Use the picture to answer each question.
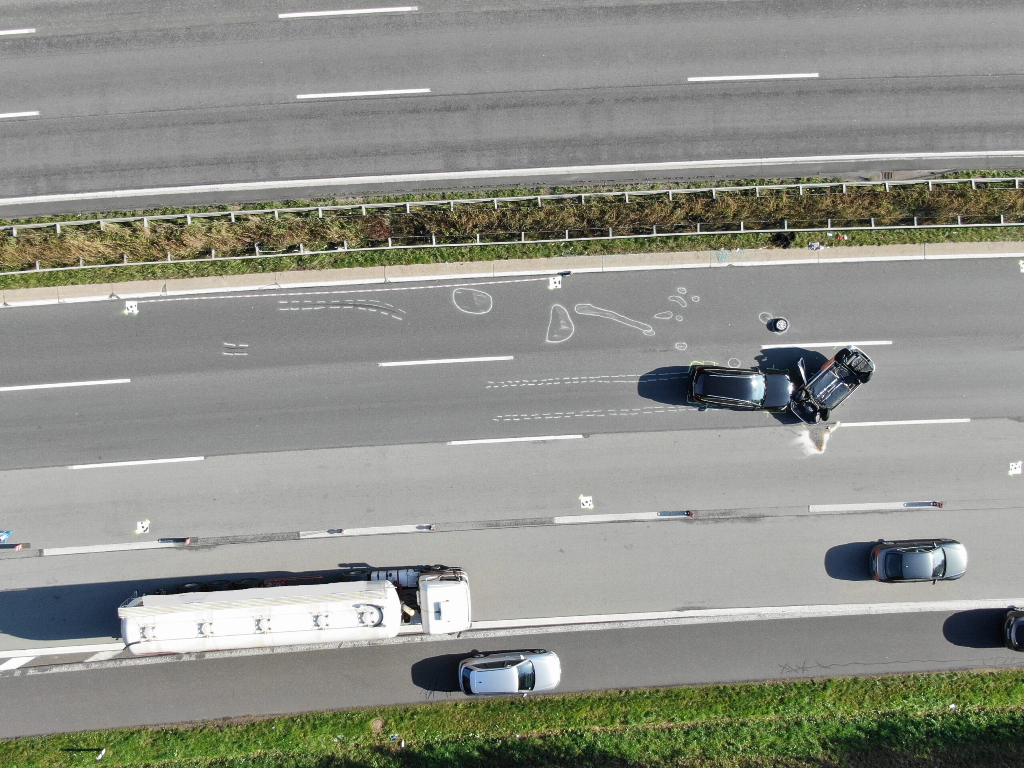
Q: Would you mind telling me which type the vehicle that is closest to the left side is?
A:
truck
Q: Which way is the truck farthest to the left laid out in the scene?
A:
from left to right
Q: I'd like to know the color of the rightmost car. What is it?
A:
black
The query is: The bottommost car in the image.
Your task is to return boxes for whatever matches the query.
[457,650,562,702]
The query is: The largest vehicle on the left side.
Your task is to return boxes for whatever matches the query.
[108,565,475,659]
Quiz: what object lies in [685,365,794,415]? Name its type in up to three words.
car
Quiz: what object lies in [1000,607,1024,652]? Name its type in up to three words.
car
